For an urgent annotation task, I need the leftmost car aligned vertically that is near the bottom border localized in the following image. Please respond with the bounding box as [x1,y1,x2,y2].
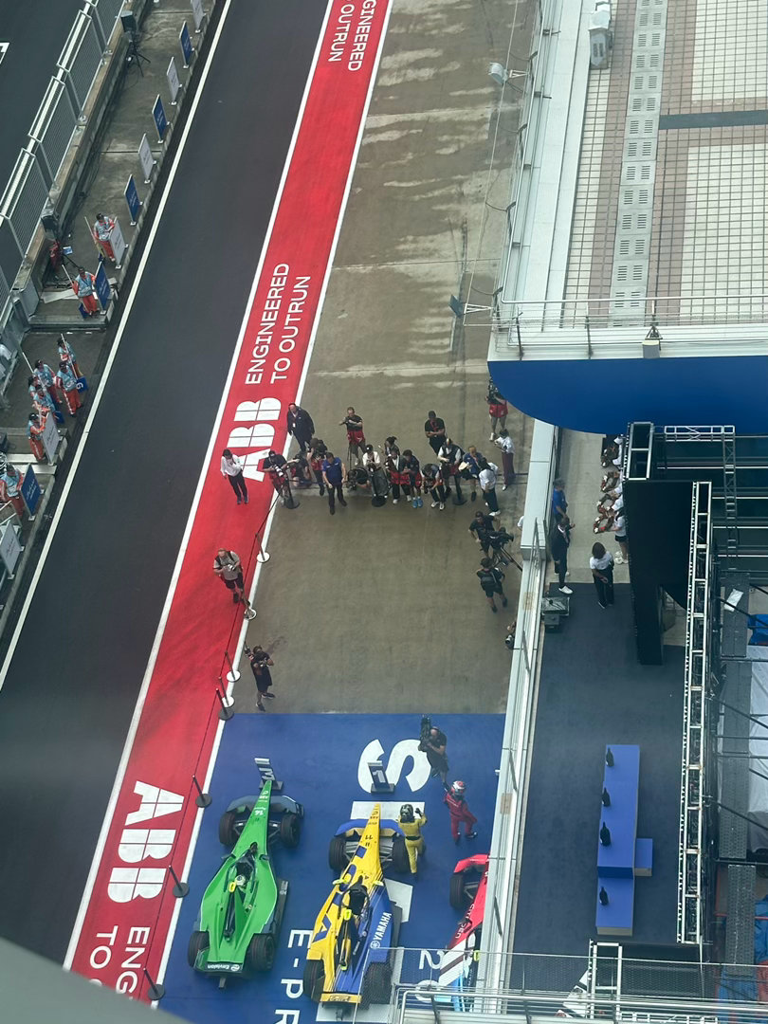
[185,779,305,995]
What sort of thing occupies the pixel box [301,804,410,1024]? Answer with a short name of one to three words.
car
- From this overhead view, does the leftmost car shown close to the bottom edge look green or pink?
green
